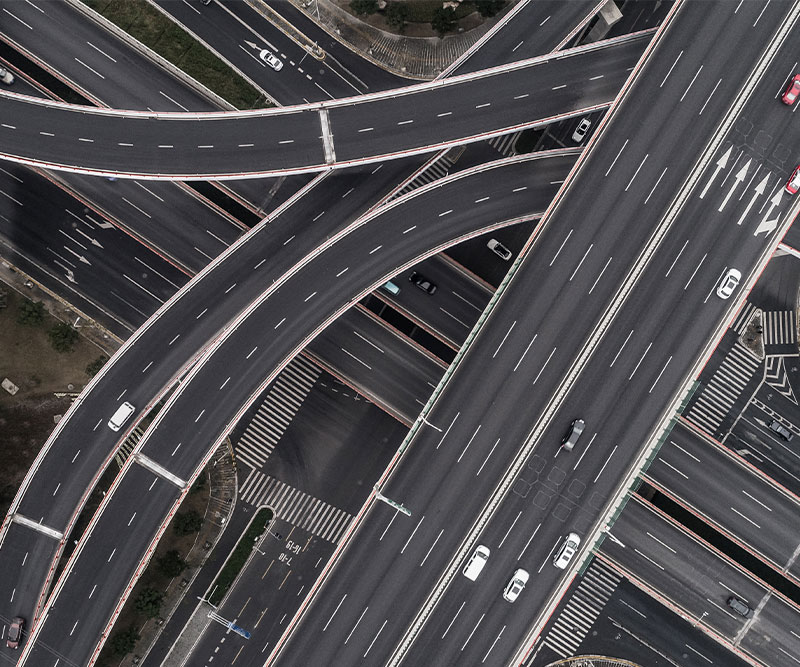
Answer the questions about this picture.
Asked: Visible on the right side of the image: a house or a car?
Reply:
car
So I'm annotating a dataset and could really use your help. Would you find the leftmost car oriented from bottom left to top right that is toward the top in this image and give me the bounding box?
[571,117,591,144]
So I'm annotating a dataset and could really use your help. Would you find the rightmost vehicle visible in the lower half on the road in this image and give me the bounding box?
[767,419,794,441]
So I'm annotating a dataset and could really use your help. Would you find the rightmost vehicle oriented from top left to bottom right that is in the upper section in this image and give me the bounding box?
[486,239,512,261]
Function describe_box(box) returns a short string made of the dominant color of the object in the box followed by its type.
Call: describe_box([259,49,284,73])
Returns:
white car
